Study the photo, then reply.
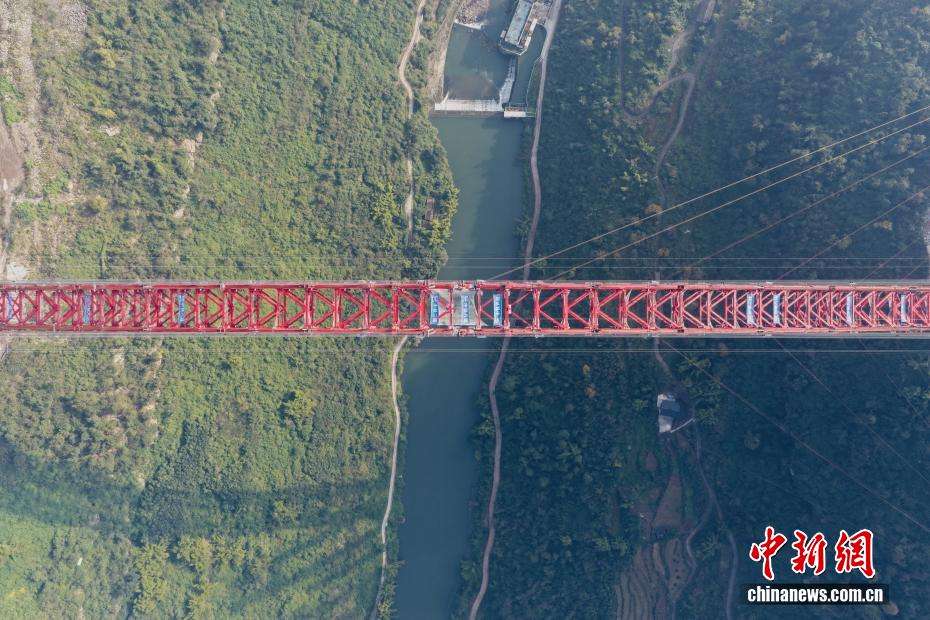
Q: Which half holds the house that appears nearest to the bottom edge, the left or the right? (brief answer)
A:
right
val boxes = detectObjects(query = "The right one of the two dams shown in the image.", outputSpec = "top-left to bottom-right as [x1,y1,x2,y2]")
[500,56,518,107]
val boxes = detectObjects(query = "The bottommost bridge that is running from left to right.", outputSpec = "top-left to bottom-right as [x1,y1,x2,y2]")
[0,281,930,339]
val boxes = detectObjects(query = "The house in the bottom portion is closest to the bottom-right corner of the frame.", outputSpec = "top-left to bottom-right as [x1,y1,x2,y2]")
[658,394,680,432]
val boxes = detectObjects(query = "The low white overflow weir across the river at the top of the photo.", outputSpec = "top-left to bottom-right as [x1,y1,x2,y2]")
[431,91,503,117]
